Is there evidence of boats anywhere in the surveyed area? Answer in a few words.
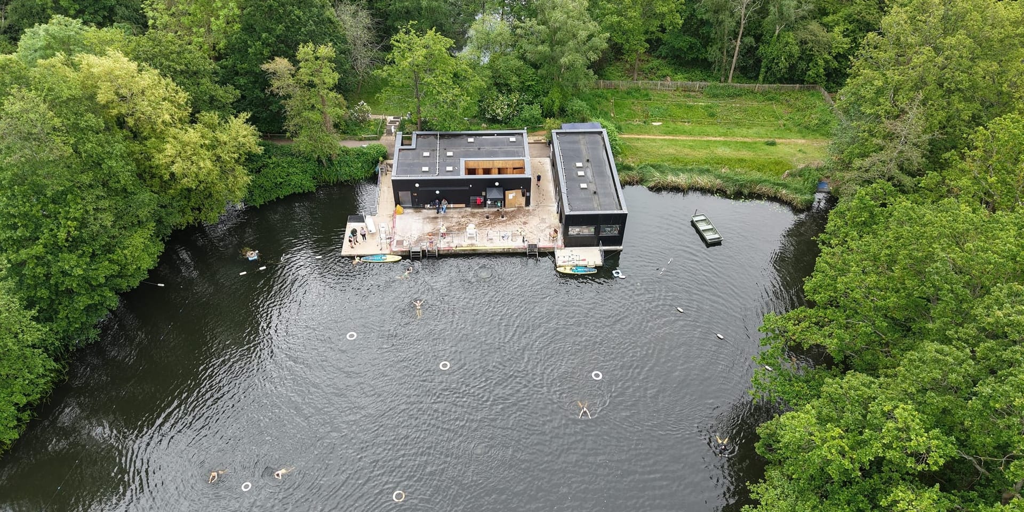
Yes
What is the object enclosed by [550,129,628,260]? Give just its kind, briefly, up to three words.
building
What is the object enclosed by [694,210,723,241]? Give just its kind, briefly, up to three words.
boat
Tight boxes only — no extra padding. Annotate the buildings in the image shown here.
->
[550,129,628,260]
[391,131,532,209]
